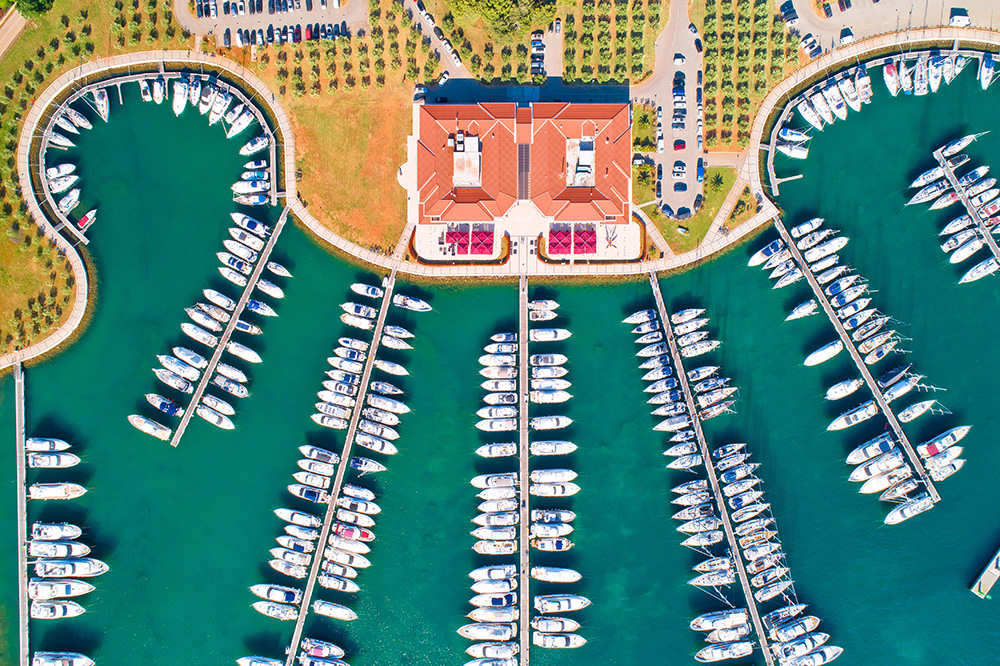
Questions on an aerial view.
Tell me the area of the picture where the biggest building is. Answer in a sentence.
The biggest building is located in the top region of the scene.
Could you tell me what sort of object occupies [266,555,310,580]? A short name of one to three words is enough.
boat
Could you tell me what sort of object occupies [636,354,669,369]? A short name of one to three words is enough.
boat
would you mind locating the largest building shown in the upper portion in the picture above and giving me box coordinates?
[417,102,631,227]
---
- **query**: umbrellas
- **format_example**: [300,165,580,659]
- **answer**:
[561,242,571,254]
[561,231,571,242]
[482,242,494,254]
[585,231,597,242]
[585,242,597,254]
[471,231,482,242]
[573,242,585,254]
[549,231,561,242]
[458,242,470,254]
[446,231,458,243]
[471,242,482,254]
[573,231,585,242]
[549,242,561,254]
[458,231,470,242]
